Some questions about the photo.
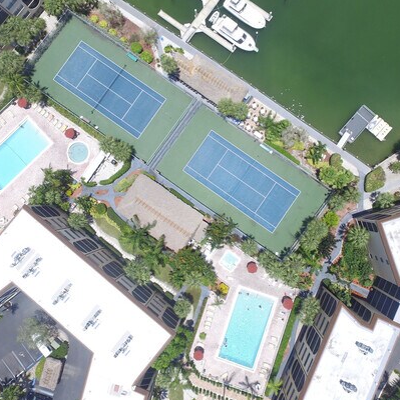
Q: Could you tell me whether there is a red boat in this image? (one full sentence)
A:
No, no red boat is visible in the scene.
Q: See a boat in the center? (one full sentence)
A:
No, in the center there is no boat.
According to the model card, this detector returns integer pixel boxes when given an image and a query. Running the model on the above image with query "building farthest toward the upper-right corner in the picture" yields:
[175,51,250,105]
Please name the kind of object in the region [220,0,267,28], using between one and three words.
boat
